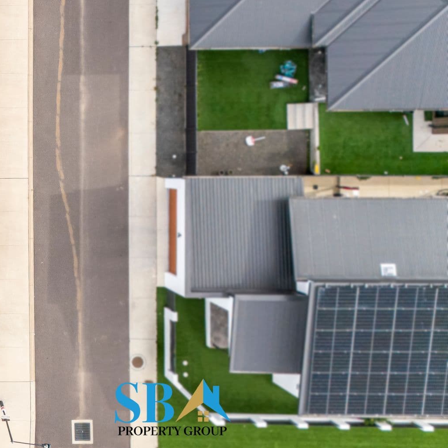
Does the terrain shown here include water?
No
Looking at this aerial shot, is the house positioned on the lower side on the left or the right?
right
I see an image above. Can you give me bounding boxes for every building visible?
[169,176,448,419]
[181,0,448,112]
